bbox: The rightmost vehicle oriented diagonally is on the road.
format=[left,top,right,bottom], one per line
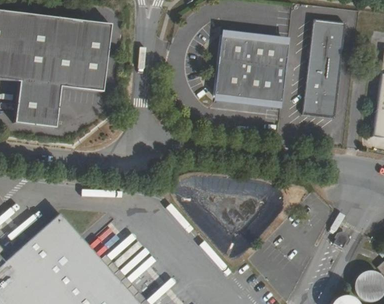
[326,213,346,236]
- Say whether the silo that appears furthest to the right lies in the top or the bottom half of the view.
bottom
